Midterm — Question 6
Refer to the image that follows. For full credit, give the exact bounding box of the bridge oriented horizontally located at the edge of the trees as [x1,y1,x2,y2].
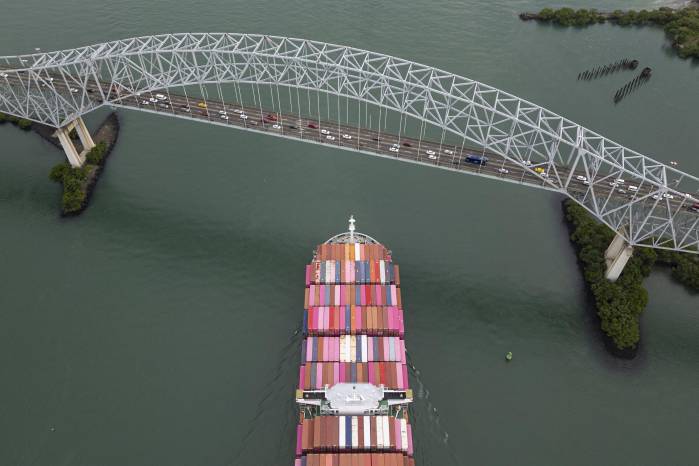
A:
[0,32,699,281]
